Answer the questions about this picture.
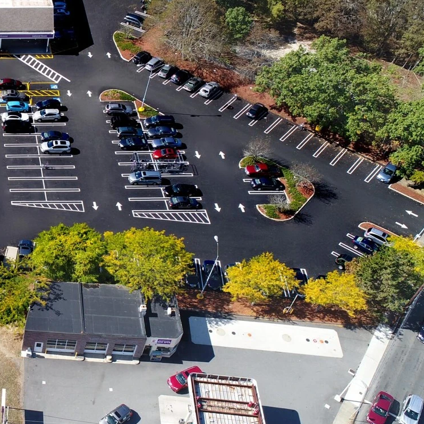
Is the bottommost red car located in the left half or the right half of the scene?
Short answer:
right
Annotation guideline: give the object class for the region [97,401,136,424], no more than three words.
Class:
car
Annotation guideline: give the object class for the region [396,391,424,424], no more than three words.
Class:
car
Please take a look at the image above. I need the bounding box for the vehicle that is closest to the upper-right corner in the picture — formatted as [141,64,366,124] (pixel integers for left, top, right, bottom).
[374,162,397,184]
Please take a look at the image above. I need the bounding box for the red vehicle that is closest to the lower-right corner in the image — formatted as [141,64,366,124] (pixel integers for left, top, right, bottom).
[367,389,393,424]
